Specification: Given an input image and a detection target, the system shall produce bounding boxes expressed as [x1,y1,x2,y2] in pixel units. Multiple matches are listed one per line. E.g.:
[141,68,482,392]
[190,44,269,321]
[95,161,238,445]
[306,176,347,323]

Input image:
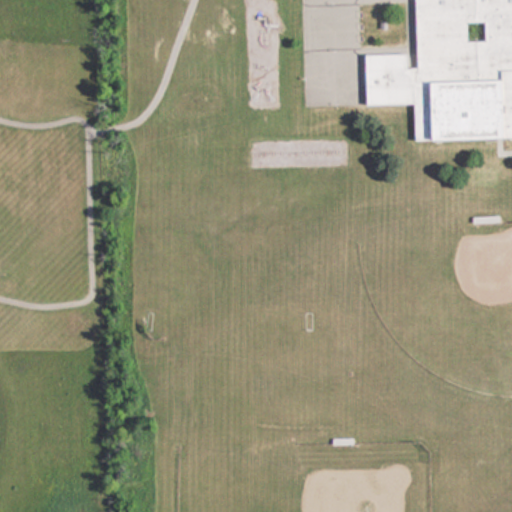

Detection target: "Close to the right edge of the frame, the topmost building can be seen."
[366,0,512,141]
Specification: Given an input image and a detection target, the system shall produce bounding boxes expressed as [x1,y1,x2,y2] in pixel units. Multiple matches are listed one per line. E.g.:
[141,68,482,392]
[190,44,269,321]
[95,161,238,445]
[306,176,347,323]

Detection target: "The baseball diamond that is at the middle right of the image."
[455,228,512,305]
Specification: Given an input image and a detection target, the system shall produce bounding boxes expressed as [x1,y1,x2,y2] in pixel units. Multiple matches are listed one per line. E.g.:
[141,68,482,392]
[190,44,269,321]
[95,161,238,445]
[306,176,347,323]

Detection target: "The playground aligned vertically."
[244,0,286,108]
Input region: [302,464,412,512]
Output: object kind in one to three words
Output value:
baseball field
